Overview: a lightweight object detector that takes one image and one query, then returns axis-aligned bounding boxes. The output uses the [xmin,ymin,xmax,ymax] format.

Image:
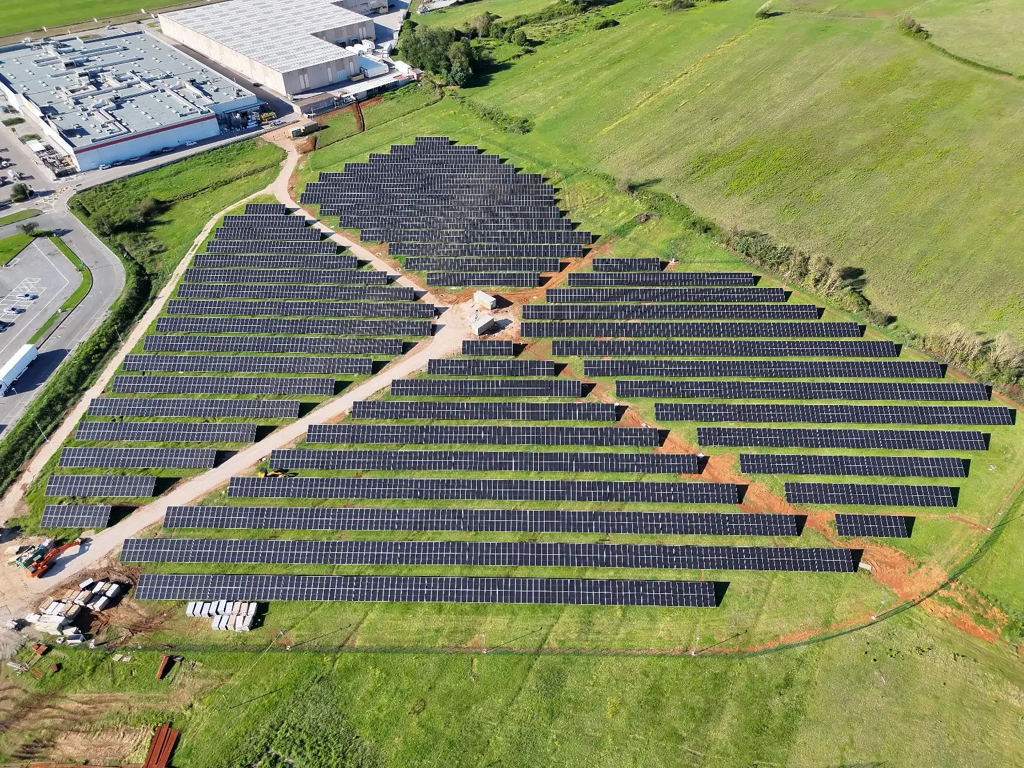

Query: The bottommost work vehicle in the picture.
[17,534,92,582]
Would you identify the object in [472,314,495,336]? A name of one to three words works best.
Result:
building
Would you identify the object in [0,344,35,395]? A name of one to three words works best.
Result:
truck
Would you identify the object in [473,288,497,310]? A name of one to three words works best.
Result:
building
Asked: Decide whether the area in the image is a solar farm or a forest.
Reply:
solar farm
